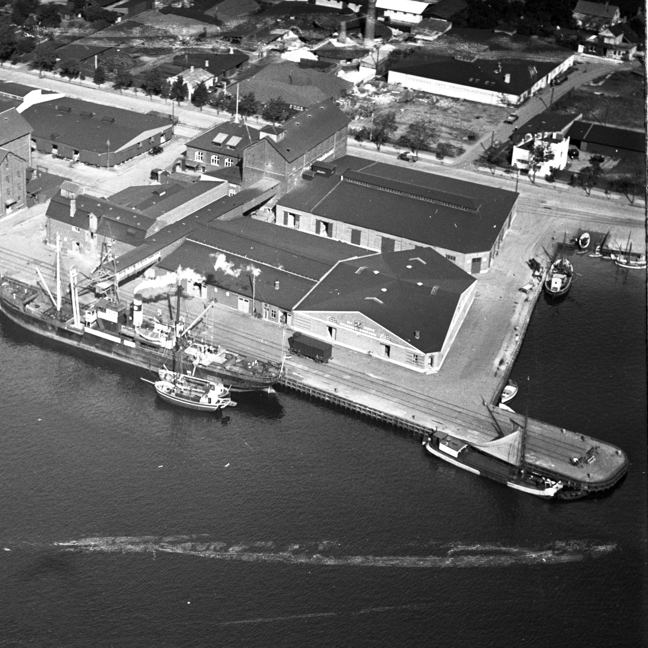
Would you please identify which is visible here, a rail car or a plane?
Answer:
rail car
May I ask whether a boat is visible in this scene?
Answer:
Yes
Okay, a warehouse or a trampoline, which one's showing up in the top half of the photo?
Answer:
warehouse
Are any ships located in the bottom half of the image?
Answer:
Yes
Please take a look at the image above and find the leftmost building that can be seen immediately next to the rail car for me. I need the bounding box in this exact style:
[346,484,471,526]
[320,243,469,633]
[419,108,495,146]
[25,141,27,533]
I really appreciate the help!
[146,218,360,328]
